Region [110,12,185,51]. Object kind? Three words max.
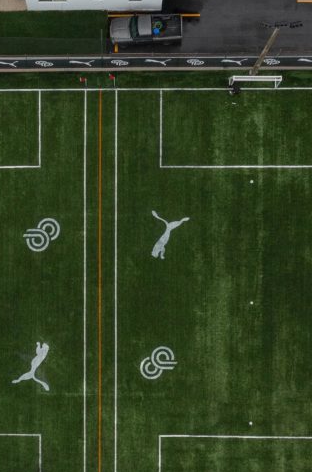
truck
